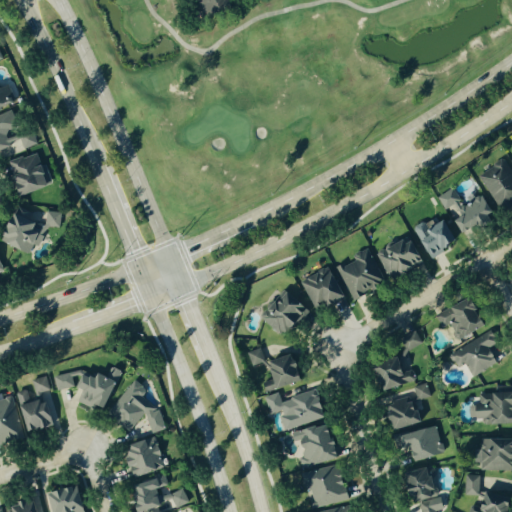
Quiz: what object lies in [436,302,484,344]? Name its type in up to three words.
house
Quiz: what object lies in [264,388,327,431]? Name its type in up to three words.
house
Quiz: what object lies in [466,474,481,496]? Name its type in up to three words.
building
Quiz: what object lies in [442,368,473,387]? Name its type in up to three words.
swimming pool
